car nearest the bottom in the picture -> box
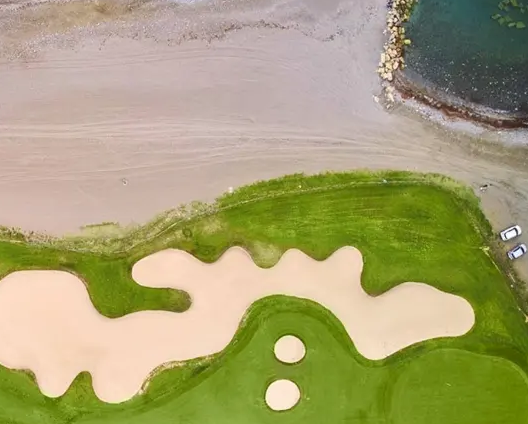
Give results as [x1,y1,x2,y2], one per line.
[506,244,528,261]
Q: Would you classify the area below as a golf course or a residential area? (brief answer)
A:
golf course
